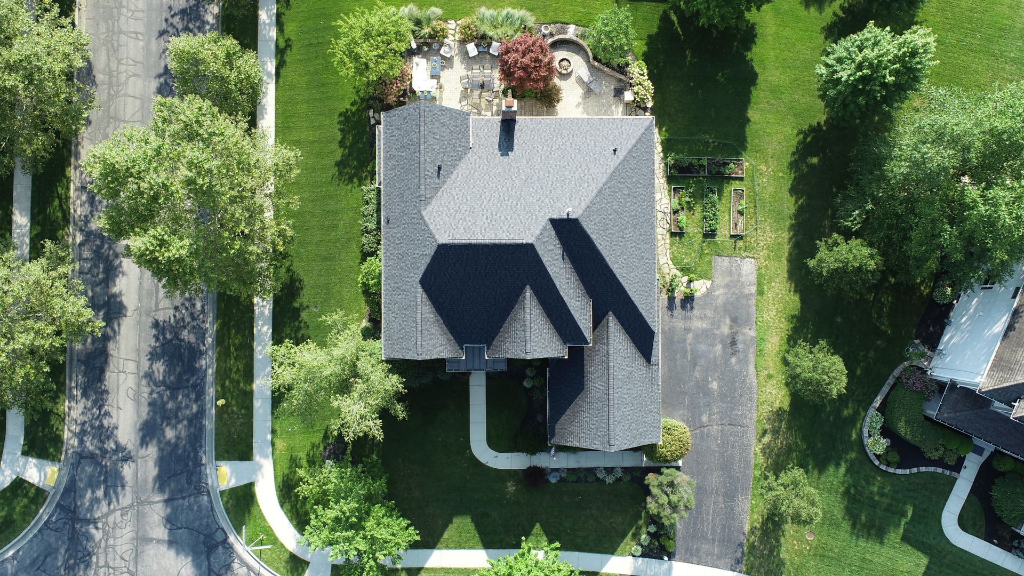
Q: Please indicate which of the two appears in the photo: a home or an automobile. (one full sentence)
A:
This aerial view contains a home.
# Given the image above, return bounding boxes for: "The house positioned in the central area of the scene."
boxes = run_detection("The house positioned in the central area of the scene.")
[375,98,663,454]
